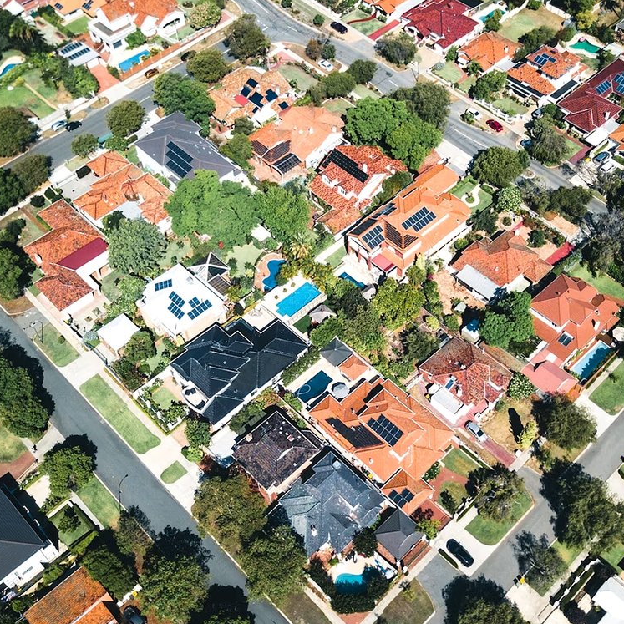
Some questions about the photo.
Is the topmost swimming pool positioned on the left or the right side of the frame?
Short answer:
right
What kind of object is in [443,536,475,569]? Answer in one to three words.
car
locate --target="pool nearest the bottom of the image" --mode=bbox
[328,552,398,601]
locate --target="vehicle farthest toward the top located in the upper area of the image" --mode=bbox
[329,18,350,35]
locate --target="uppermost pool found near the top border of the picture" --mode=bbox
[474,2,509,27]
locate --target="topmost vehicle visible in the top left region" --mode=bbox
[141,66,164,79]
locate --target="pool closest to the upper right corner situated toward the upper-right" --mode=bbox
[562,35,604,56]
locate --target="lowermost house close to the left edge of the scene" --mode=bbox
[23,566,123,624]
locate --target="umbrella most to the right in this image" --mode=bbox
[610,329,624,345]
